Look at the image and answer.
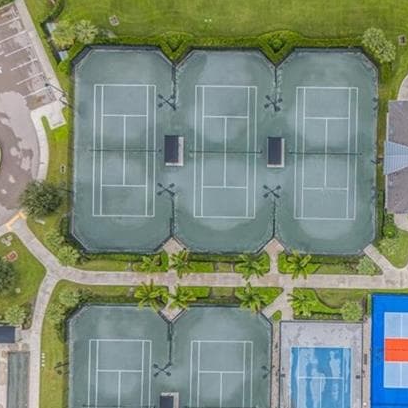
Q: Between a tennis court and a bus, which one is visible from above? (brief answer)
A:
tennis court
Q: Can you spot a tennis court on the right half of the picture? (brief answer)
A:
Yes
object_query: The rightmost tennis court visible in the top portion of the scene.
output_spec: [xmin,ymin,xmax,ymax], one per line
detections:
[275,51,377,254]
